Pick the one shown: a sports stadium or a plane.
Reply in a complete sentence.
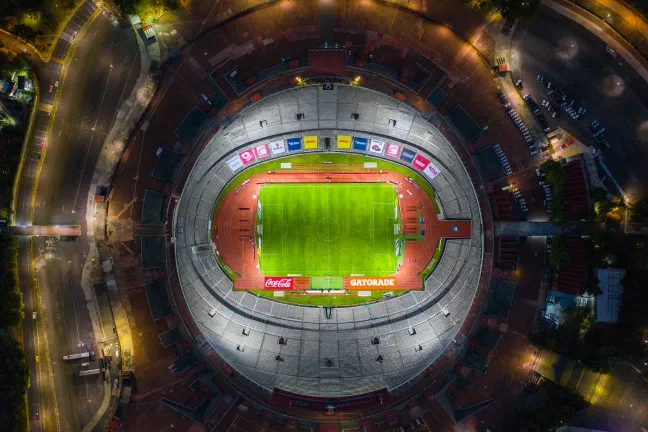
The image shows a sports stadium.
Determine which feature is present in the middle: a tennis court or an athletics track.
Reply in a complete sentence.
The one visible in the middle is an athletics track.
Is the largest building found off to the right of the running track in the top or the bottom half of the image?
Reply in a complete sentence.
The largest building found off to the right of the running track sits in the bottom half of the picture.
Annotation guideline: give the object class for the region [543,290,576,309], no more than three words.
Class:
building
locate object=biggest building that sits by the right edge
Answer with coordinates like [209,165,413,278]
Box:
[592,268,625,323]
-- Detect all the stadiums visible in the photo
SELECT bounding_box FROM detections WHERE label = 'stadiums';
[165,67,494,421]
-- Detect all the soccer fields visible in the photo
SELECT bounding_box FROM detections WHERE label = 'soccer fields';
[256,182,401,276]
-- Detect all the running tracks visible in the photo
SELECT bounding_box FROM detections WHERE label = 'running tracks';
[214,173,465,291]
